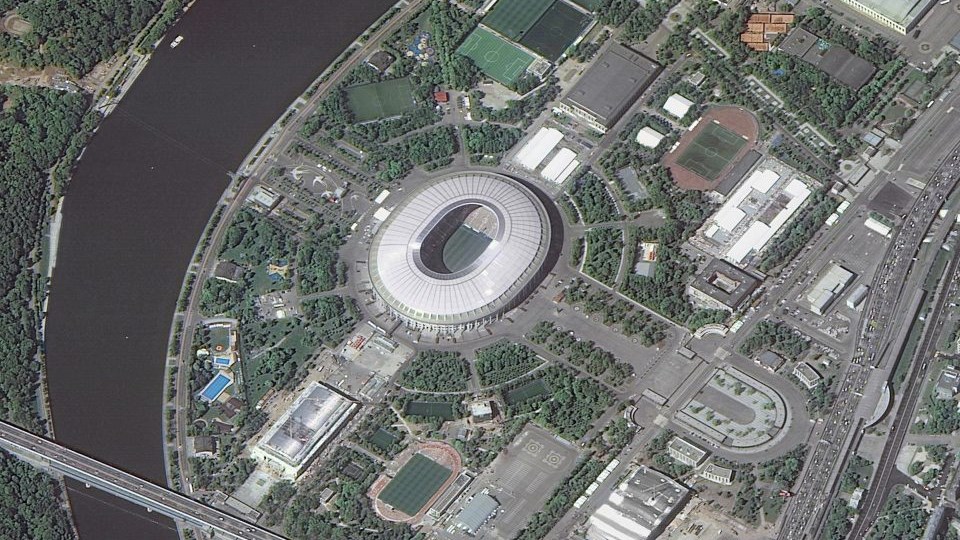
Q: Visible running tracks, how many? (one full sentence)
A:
Looking from above, you can make out 2 running tracks.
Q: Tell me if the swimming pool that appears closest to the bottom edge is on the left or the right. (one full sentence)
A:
The swimming pool that appears closest to the bottom edge sits on the left side.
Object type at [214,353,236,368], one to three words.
swimming pool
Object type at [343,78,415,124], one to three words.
soccer field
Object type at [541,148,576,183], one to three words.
tent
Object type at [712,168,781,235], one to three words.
building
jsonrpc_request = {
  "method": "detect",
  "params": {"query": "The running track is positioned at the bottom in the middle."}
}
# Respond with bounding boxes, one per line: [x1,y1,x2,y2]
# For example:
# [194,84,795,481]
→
[369,441,461,524]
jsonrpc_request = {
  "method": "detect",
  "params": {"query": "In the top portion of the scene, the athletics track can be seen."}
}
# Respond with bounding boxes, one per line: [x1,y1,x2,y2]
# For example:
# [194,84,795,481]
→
[660,105,758,190]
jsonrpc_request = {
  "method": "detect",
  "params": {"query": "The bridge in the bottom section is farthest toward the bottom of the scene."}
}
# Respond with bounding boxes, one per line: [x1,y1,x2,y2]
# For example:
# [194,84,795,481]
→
[0,420,286,540]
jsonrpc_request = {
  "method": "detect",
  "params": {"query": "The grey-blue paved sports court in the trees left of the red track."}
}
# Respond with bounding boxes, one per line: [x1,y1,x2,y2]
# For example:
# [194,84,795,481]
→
[616,166,646,199]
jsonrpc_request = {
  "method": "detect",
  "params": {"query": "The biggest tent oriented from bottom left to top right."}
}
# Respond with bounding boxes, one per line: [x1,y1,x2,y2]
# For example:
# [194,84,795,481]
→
[516,128,563,172]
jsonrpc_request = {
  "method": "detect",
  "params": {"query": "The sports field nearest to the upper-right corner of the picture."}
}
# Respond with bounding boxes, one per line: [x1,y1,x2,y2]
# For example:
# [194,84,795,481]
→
[675,121,746,181]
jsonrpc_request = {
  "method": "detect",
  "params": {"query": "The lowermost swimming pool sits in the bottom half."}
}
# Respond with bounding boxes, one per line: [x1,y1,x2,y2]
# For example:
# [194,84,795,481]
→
[201,368,236,402]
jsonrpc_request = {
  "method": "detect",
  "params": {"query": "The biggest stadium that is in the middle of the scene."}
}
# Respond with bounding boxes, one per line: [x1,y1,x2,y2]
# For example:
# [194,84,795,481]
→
[368,172,550,335]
